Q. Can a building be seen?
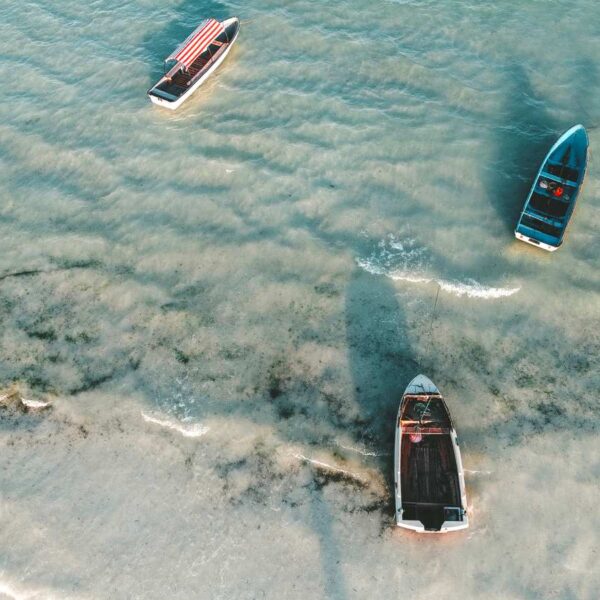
No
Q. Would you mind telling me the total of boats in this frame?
3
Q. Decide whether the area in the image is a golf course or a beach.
beach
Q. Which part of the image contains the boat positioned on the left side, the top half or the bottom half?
top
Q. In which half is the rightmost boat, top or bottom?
top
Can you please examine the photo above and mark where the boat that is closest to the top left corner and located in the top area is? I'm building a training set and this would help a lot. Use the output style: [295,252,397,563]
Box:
[149,18,241,111]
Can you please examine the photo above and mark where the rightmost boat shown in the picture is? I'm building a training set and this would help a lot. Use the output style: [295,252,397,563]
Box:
[518,125,589,253]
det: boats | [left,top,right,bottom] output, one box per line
[149,18,241,111]
[391,373,468,531]
[518,125,589,253]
